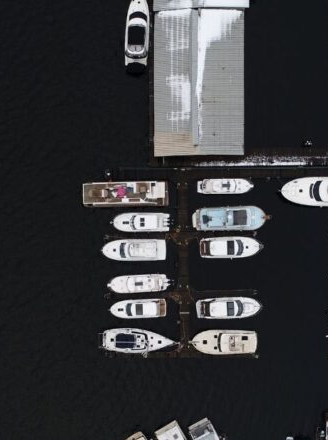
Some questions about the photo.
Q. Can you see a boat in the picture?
Yes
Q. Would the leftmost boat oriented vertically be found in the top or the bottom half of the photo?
top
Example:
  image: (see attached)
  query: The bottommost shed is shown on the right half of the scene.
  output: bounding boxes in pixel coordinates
[152,9,245,158]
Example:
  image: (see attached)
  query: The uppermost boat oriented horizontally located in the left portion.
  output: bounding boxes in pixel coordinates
[83,181,168,207]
